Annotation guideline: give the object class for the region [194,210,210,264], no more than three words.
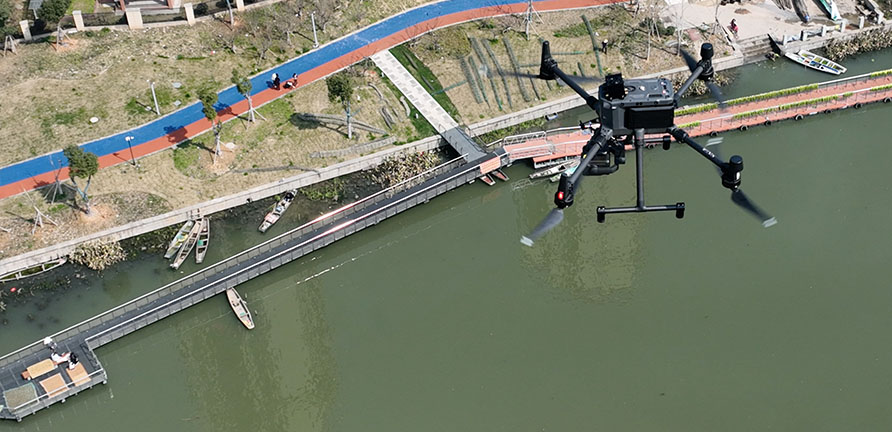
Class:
boat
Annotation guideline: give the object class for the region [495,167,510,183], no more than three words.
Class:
boat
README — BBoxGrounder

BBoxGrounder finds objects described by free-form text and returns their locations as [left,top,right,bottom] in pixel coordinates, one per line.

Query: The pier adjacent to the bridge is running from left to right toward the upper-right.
[532,69,892,163]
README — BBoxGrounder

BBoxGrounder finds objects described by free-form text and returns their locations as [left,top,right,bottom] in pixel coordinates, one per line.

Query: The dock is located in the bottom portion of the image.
[0,138,511,424]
